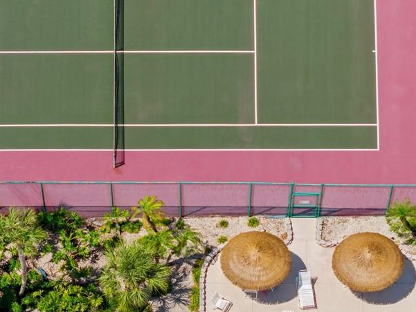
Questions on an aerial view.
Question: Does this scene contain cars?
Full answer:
No, the picture doesn't show any car.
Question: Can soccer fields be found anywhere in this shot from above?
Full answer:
No, there appears to be no soccer field in this shot.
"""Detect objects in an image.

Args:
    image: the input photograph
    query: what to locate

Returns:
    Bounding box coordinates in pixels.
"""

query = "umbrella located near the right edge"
[330,233,405,295]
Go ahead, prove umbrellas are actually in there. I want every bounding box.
[219,230,294,290]
[330,233,405,295]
